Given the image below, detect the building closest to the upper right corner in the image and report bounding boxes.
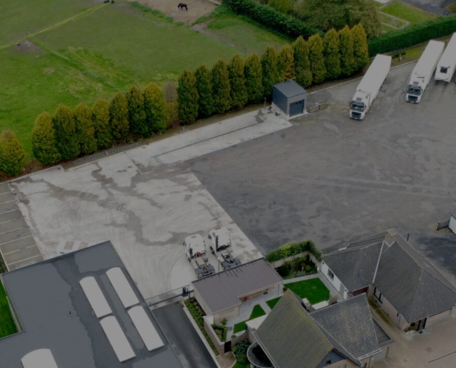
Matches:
[272,79,309,118]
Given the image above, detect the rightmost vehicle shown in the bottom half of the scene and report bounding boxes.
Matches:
[207,230,237,271]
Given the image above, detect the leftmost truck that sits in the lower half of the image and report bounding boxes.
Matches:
[185,236,212,279]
